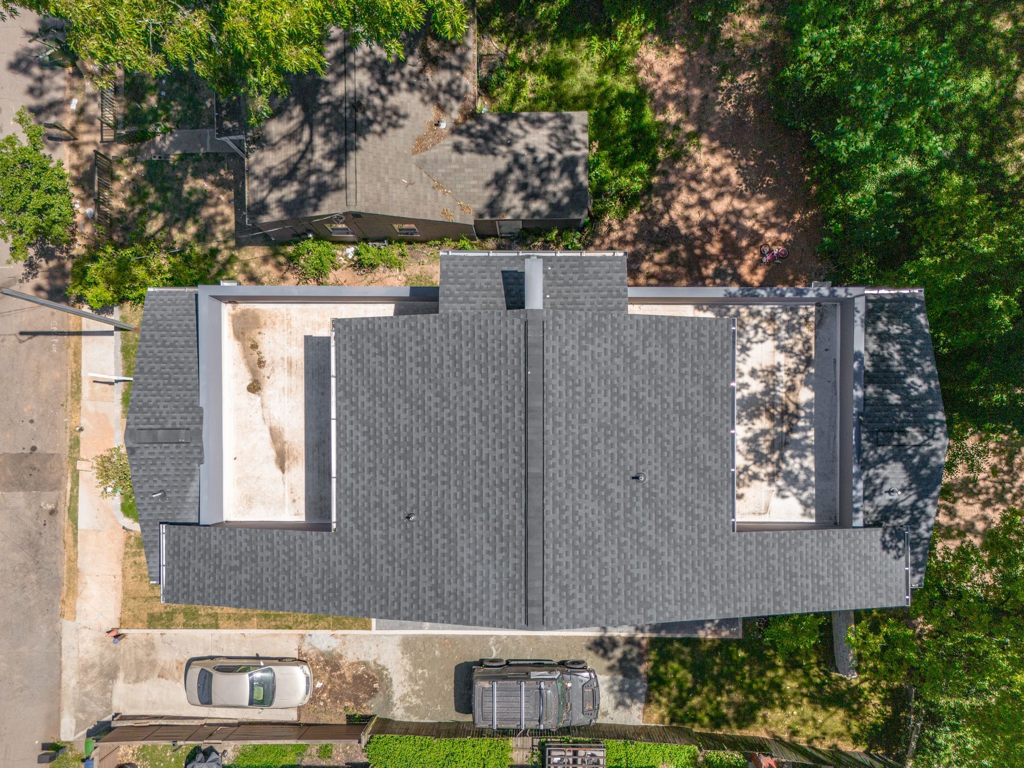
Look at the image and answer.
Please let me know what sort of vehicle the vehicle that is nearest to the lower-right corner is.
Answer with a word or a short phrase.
automobile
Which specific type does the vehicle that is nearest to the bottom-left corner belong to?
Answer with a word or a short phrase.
automobile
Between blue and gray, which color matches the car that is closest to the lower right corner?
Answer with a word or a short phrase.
gray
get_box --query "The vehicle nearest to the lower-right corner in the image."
[471,656,601,731]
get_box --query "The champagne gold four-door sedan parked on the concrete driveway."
[184,656,316,716]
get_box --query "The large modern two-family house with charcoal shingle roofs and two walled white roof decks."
[123,249,947,631]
